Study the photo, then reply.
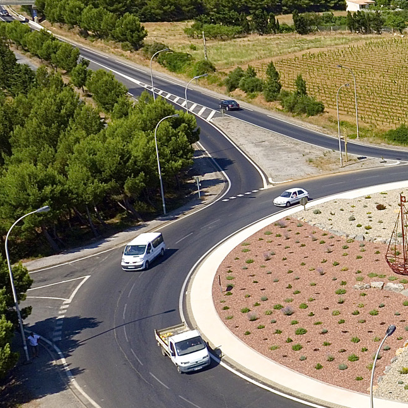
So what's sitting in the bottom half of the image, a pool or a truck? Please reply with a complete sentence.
What appears in the bottom half of the image is a truck.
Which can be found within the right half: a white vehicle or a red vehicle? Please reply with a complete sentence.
The feature located within the right half is a white vehicle.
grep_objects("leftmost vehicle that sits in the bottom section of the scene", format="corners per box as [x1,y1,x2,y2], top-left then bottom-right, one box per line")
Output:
[121,233,166,270]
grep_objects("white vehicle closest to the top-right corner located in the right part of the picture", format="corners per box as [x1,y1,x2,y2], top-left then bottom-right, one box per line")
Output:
[276,187,313,207]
